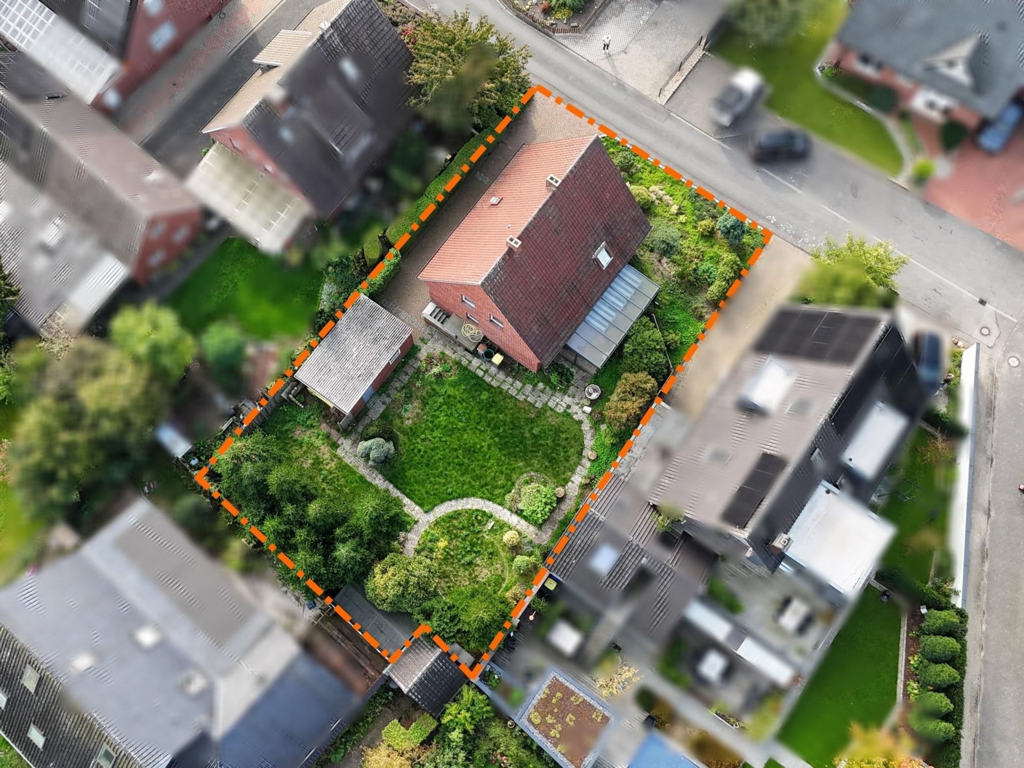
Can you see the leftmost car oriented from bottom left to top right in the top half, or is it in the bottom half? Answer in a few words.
top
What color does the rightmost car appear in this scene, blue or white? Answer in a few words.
blue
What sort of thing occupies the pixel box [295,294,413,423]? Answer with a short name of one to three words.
shed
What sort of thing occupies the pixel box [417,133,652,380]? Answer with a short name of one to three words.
house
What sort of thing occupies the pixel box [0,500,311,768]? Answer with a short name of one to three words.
house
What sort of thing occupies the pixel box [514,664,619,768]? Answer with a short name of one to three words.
building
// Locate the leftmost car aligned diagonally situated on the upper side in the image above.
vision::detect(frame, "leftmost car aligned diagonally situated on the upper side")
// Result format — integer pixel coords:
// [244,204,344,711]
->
[714,66,768,126]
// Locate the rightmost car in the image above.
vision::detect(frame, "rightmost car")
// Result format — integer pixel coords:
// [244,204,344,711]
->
[976,98,1024,151]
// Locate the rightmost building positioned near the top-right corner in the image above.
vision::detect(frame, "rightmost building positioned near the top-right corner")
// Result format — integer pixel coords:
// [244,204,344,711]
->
[822,0,1024,132]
